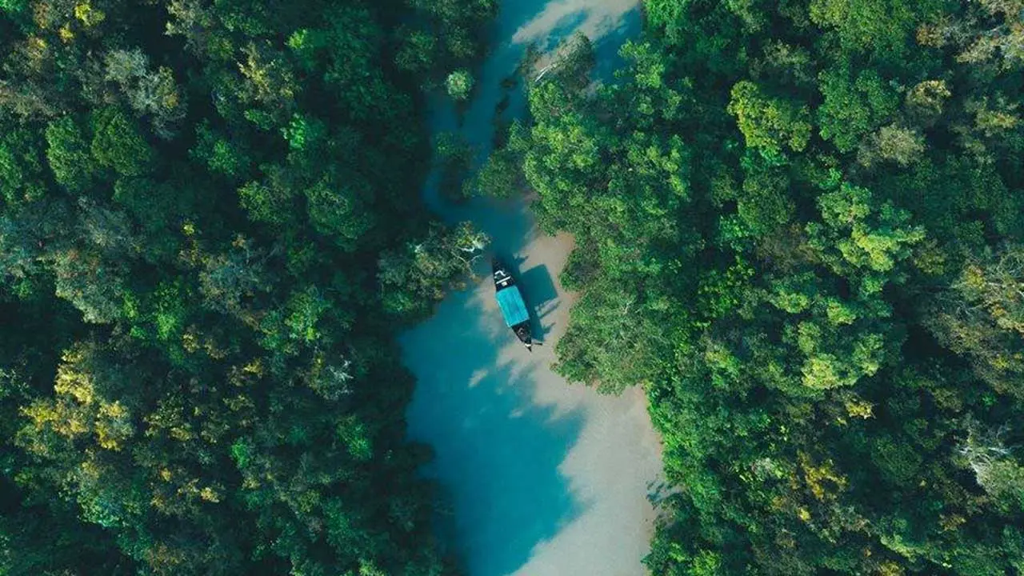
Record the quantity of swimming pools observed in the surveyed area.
0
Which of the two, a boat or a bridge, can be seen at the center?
boat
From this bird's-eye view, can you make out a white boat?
No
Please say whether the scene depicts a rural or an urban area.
rural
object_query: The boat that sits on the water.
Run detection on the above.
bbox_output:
[493,261,543,352]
